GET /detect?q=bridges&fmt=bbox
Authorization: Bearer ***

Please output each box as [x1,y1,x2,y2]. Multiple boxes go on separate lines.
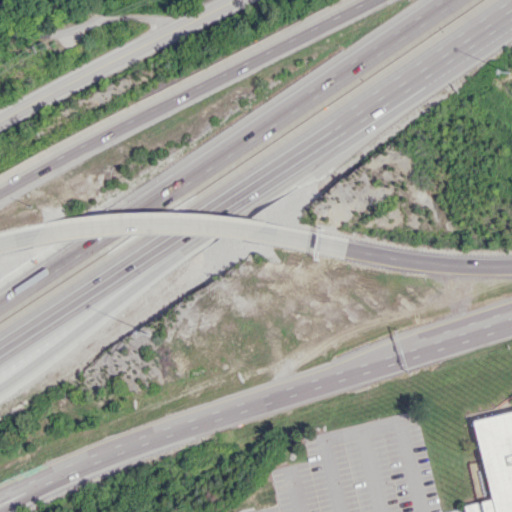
[0,212,349,260]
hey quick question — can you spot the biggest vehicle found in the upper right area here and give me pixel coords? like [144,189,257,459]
[370,106,388,120]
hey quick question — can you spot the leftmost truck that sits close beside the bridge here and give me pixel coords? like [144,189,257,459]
[8,270,49,299]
